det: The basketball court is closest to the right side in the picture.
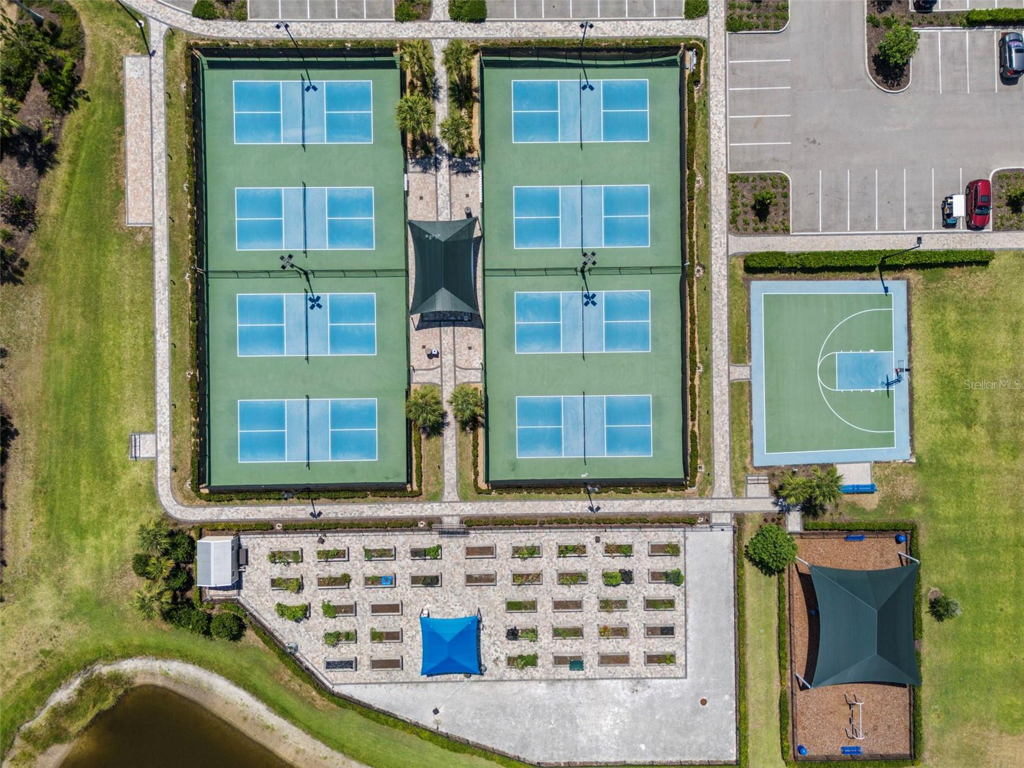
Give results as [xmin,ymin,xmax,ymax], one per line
[762,293,896,454]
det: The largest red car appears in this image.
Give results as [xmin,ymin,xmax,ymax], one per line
[967,179,996,229]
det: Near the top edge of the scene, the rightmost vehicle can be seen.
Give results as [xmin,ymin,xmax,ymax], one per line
[1000,28,1024,79]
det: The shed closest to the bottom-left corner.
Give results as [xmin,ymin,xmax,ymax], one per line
[197,536,240,589]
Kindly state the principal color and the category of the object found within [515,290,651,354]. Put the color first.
blue sports court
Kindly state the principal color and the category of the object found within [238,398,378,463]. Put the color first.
blue sports court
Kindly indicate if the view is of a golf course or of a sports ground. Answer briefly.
sports ground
